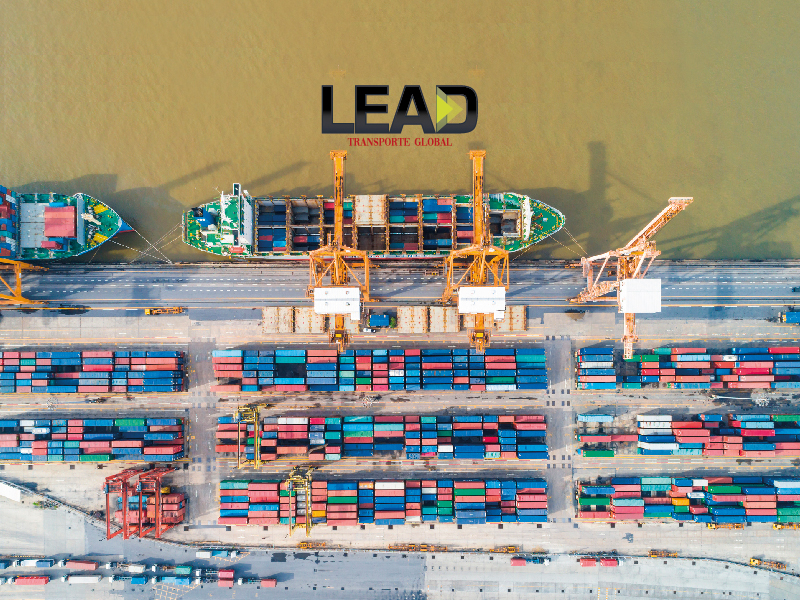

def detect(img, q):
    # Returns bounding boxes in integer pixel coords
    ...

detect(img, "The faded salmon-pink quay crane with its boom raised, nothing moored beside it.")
[569,191,697,361]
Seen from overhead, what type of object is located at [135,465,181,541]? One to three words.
container crane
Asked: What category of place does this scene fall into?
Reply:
port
